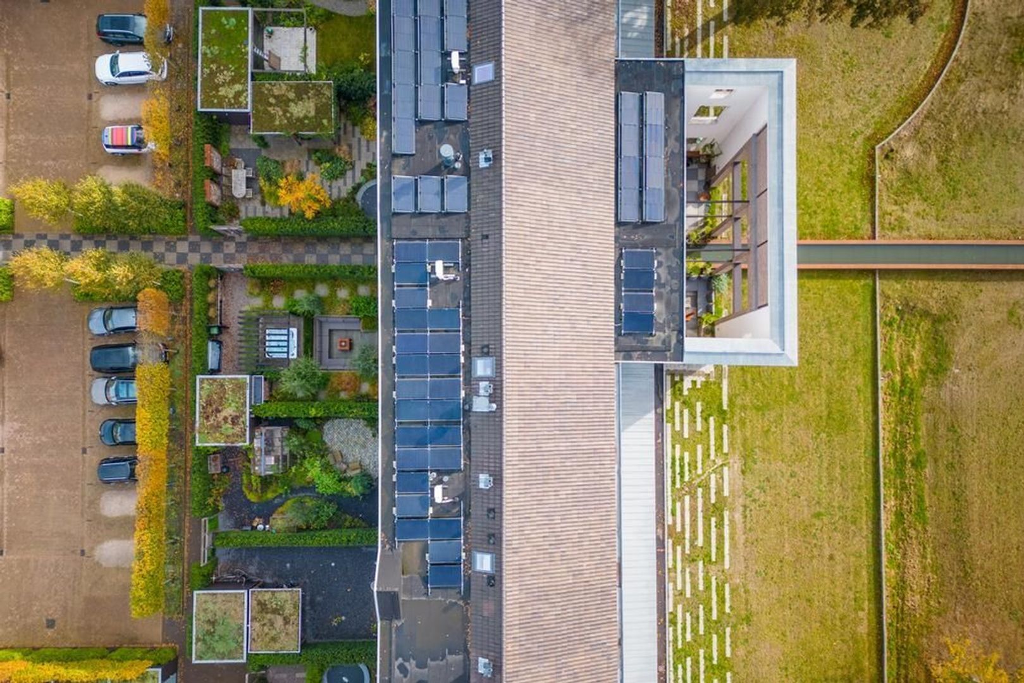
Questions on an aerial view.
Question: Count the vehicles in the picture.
8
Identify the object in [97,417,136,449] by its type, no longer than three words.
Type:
car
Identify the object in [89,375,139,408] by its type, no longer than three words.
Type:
car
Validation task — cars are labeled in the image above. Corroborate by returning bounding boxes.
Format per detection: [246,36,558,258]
[94,48,167,87]
[93,456,136,485]
[93,12,172,49]
[91,341,169,373]
[89,375,139,408]
[97,417,136,449]
[99,125,160,155]
[86,304,155,337]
